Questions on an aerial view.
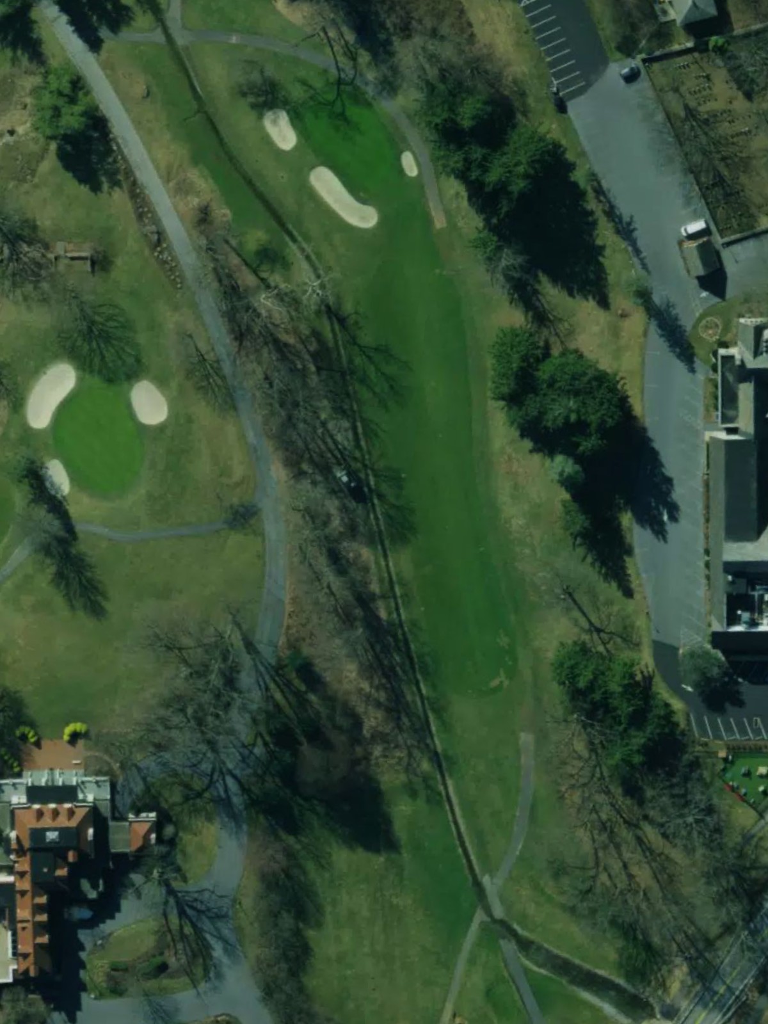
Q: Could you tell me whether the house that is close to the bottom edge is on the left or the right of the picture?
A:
left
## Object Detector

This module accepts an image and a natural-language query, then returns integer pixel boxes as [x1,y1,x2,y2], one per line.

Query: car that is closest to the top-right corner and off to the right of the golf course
[620,66,641,78]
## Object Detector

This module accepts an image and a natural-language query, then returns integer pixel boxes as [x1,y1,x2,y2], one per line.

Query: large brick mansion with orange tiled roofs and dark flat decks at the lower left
[0,766,158,983]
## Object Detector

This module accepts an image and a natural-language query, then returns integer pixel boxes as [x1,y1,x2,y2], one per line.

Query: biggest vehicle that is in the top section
[680,220,707,236]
